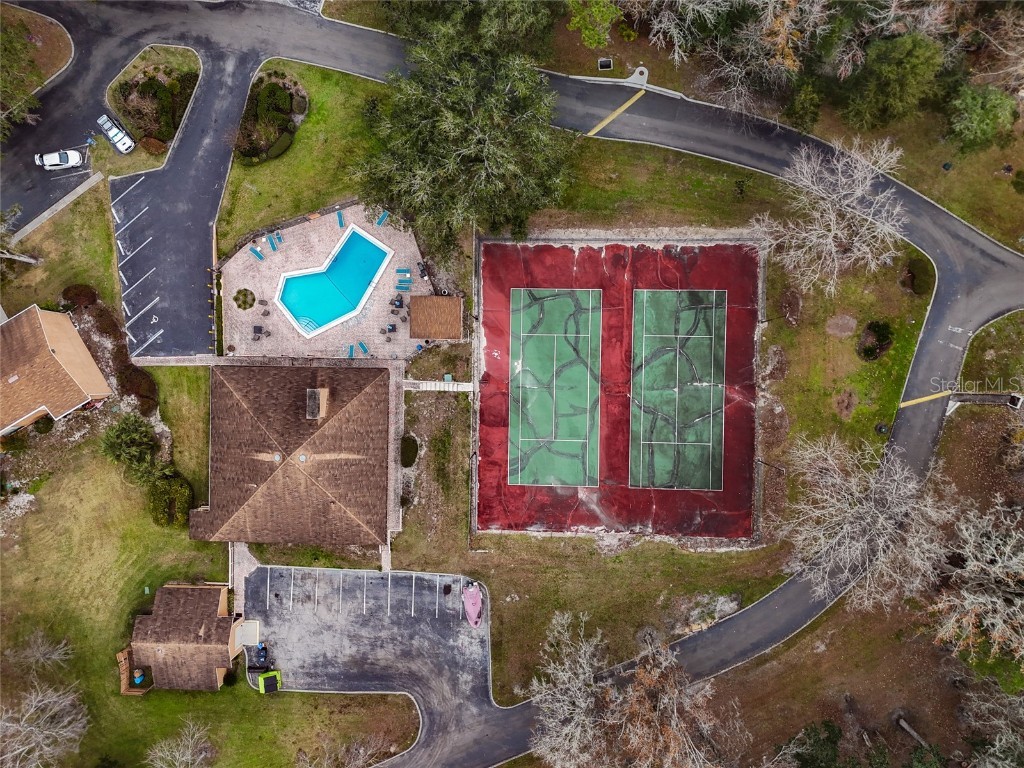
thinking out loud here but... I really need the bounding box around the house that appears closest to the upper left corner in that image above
[0,304,112,436]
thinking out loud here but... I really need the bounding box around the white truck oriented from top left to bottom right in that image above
[95,111,137,157]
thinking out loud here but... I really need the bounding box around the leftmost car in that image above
[34,151,86,172]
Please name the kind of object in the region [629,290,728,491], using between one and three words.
tennis court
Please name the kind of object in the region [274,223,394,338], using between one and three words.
swimming pool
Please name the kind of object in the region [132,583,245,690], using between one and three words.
house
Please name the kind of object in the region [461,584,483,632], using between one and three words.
boat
